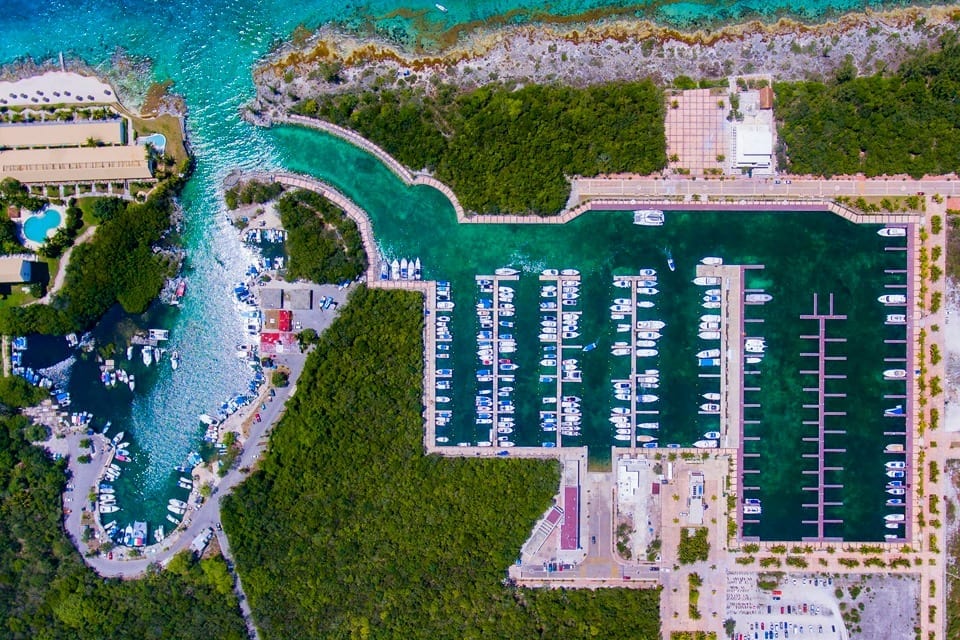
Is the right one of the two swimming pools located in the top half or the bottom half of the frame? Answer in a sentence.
Seen from above, the right one of the two swimming pools lies in the top half of the view.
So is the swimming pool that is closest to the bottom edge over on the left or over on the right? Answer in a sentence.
You can find the swimming pool that is closest to the bottom edge on the left side of the picture.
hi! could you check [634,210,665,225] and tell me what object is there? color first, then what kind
white boat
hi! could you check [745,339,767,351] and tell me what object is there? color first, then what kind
white boat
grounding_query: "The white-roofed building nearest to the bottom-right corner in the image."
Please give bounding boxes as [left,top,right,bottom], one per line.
[688,472,704,524]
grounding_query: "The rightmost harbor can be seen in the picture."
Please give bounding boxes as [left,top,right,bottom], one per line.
[274,120,922,549]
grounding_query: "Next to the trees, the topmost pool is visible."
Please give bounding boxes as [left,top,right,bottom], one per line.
[136,133,168,156]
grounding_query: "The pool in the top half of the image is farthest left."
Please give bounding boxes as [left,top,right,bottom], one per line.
[17,203,68,250]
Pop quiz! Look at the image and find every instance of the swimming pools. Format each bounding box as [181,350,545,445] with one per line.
[136,133,168,156]
[17,203,68,250]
